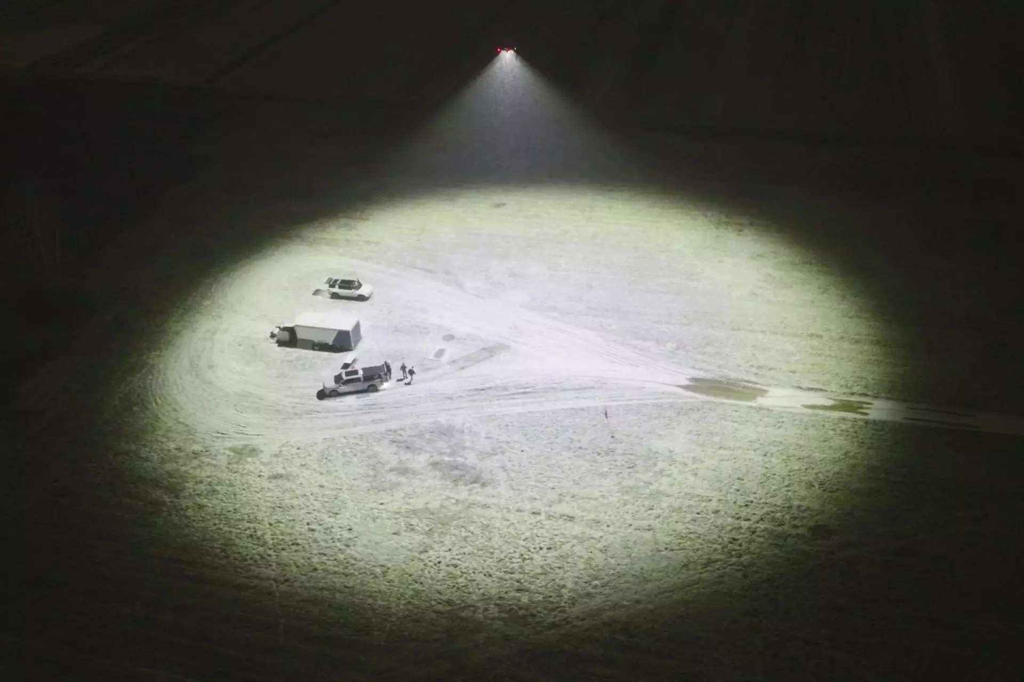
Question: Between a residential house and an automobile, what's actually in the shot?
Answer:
automobile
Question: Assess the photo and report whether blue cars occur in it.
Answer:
No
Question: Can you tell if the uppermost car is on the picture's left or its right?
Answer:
left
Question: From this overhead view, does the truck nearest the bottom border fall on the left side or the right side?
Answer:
left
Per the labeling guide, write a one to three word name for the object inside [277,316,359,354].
trailer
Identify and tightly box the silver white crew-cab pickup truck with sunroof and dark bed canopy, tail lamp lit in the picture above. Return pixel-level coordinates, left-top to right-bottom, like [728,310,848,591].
[320,363,389,399]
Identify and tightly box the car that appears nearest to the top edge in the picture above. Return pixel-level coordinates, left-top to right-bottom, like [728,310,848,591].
[323,274,375,302]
